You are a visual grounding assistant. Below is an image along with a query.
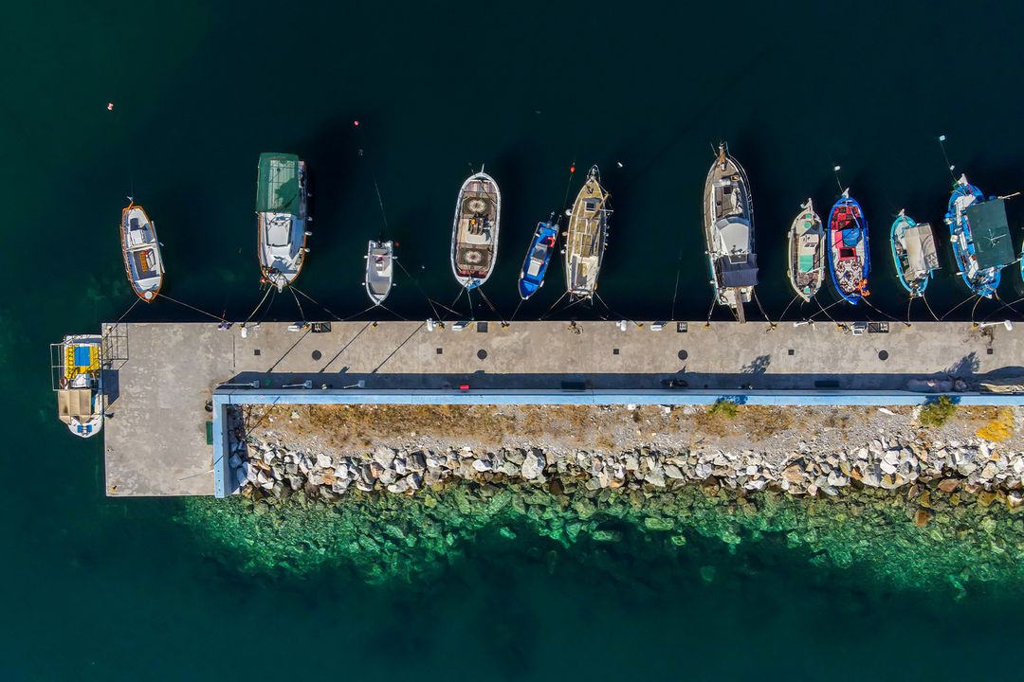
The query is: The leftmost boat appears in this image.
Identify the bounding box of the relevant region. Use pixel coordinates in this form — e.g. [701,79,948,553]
[50,329,113,438]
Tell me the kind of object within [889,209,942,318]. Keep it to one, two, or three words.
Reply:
boat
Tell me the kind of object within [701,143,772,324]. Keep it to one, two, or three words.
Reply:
boat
